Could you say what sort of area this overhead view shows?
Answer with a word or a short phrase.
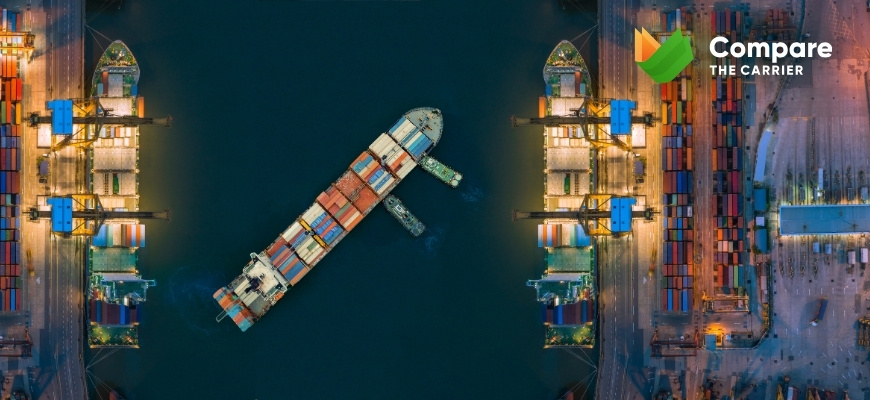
port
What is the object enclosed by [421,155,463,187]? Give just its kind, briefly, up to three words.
boat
